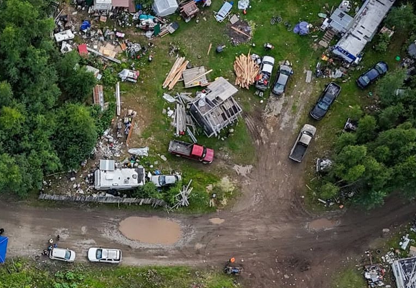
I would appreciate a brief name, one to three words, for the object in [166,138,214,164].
truck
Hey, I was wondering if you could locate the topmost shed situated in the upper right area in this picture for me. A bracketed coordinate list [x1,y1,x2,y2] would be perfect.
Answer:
[322,9,350,38]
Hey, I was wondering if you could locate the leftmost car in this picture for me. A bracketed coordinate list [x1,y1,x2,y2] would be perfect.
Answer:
[48,245,75,264]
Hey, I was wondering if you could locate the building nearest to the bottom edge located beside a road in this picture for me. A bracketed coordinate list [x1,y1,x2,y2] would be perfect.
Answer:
[186,78,242,141]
